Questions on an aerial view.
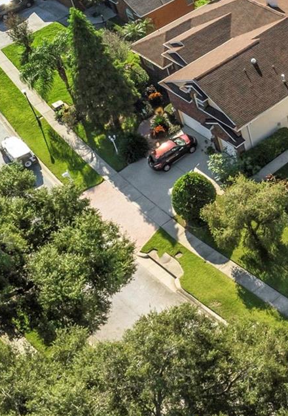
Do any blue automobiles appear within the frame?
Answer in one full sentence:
No, this view has no blue automobile in it.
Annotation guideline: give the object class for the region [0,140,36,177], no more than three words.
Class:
car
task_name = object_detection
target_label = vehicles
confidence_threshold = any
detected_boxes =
[142,131,193,164]
[0,140,36,177]
[0,0,35,16]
